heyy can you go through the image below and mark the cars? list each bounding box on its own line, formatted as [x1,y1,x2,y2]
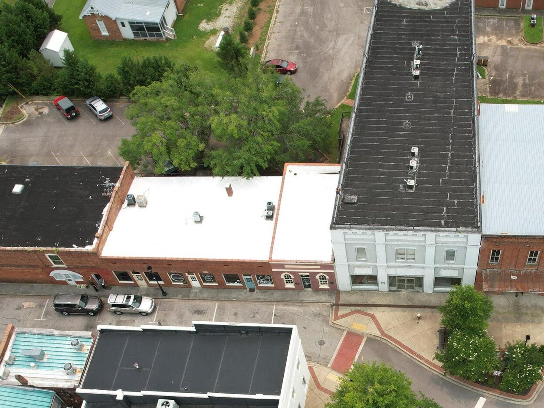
[260,56,301,76]
[51,290,104,314]
[106,292,157,317]
[52,94,81,122]
[84,97,115,124]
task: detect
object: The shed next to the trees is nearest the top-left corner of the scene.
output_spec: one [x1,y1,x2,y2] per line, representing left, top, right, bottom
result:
[45,23,73,66]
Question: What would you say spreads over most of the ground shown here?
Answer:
buildings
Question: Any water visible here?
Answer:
No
